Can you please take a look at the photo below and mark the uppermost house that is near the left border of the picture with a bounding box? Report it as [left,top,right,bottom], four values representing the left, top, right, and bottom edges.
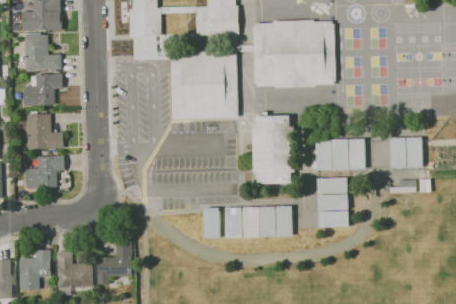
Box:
[20,0,62,32]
